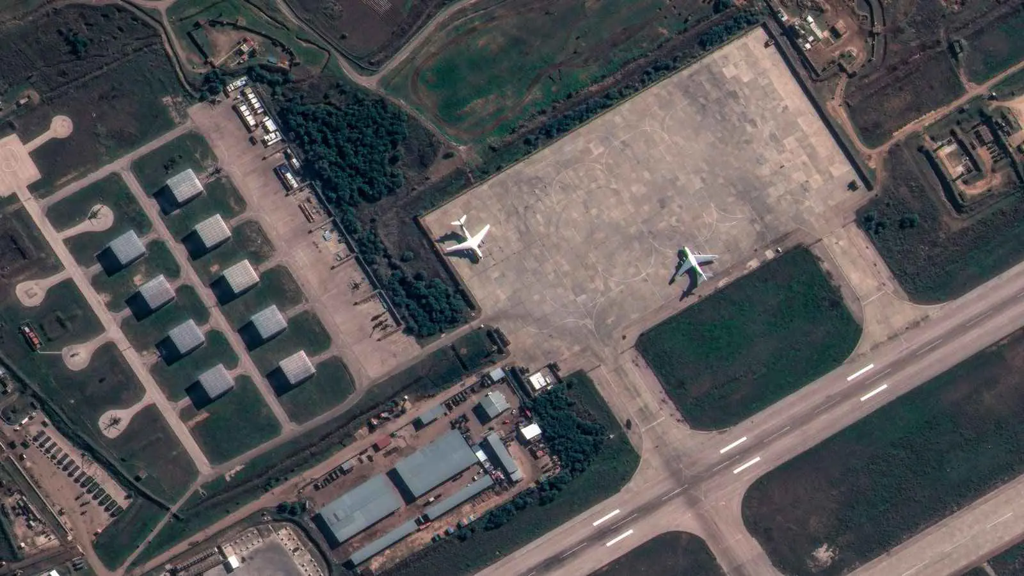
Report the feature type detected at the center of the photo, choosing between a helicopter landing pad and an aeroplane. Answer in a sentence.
You can see an aeroplane at the center of the photo.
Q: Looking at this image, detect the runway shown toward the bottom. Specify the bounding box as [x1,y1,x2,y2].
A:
[473,260,1024,576]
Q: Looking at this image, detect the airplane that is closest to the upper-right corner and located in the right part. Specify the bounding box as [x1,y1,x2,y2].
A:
[674,246,718,280]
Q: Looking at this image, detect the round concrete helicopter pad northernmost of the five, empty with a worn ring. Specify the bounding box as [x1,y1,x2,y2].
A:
[25,118,72,154]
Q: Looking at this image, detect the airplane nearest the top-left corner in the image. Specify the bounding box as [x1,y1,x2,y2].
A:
[448,218,490,259]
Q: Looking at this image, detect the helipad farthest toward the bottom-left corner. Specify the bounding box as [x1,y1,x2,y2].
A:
[100,395,156,433]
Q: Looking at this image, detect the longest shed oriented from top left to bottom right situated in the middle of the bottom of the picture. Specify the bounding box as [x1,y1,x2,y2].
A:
[487,433,521,483]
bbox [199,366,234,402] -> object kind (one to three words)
hangar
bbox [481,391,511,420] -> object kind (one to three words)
building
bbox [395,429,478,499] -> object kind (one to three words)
building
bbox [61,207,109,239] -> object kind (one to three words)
helipad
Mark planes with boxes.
[674,246,718,280]
[448,218,490,259]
